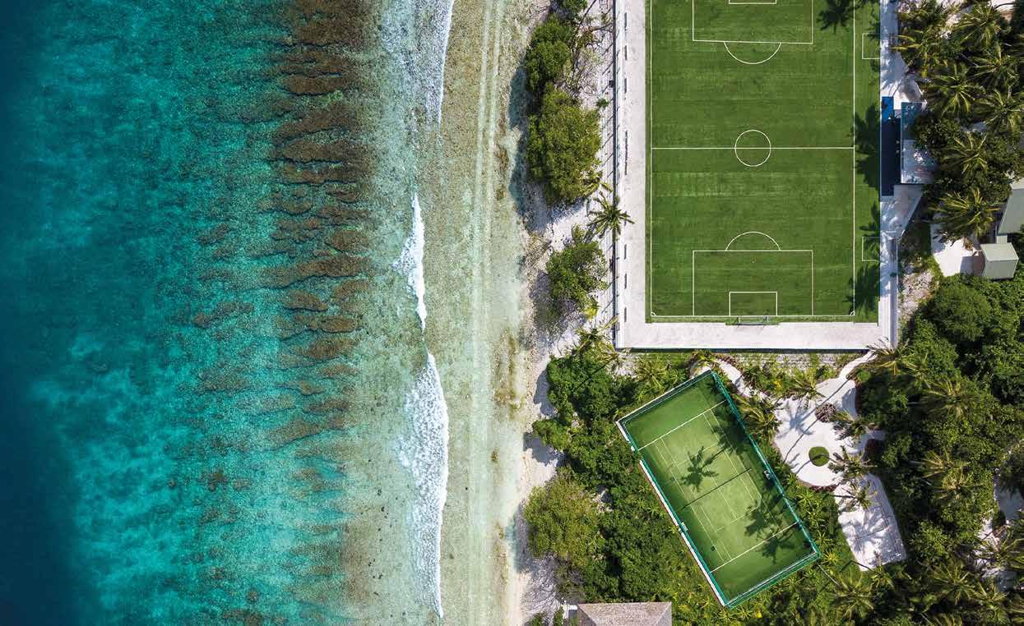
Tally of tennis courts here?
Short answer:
one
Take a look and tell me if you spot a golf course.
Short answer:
No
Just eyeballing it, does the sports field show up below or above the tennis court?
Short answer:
above it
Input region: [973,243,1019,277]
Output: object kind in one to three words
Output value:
shed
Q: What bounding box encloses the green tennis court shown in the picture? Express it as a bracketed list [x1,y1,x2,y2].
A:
[618,371,815,604]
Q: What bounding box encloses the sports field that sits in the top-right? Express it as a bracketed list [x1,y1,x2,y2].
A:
[645,0,880,325]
